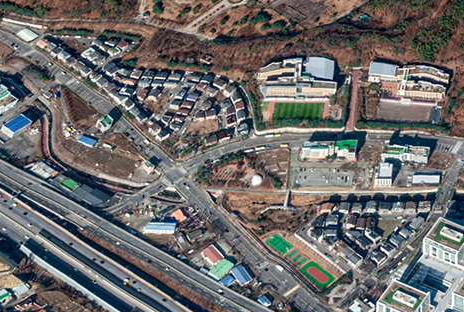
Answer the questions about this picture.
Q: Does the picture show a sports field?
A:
Yes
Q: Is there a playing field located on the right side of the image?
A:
Yes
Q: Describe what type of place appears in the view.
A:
residential area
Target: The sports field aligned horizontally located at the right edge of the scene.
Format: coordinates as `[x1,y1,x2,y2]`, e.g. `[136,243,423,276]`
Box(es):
[376,97,442,122]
